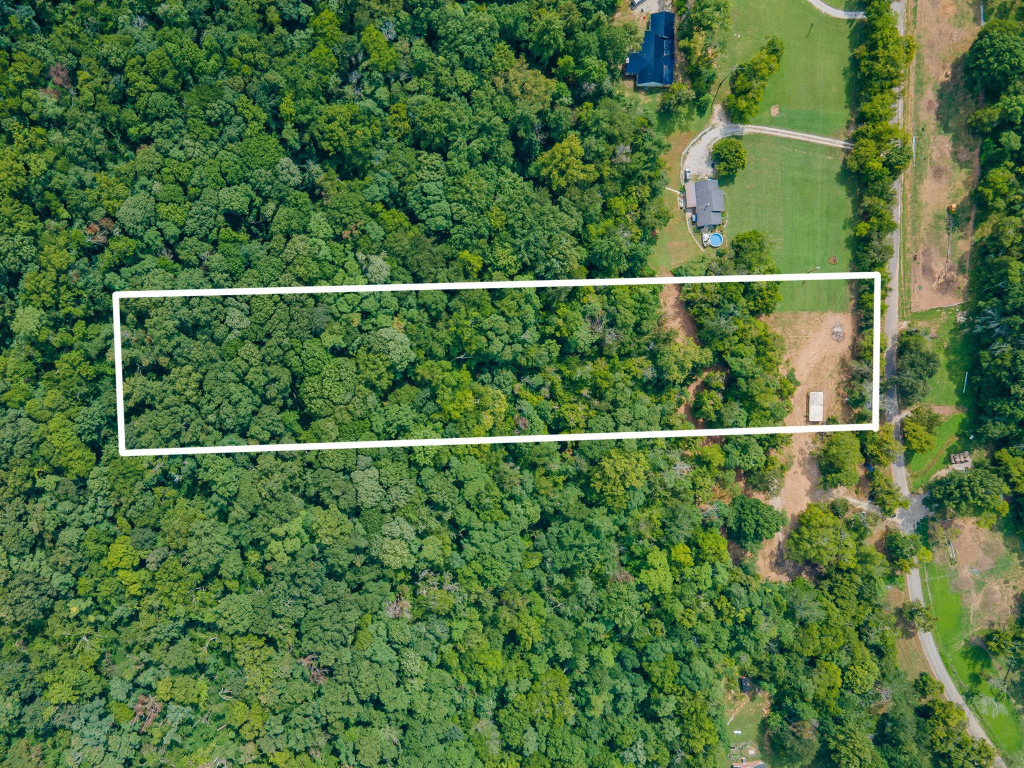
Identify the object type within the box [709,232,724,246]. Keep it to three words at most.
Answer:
swimming pool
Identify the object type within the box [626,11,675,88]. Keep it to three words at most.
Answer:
house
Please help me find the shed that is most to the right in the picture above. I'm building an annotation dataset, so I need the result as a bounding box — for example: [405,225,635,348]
[807,392,823,422]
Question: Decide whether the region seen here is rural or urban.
rural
